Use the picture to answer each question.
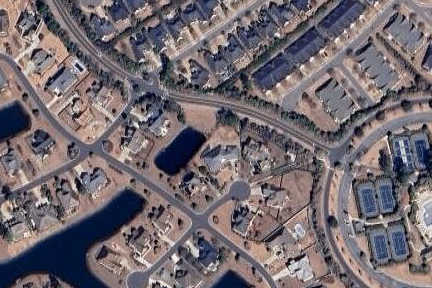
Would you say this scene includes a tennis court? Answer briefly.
Yes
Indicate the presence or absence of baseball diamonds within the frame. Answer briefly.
No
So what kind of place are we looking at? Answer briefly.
residential area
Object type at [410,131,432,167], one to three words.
tennis court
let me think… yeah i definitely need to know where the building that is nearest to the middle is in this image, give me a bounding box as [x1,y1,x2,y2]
[200,139,237,169]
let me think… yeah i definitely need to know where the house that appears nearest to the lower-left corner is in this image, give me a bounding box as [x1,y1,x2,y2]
[0,210,29,244]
